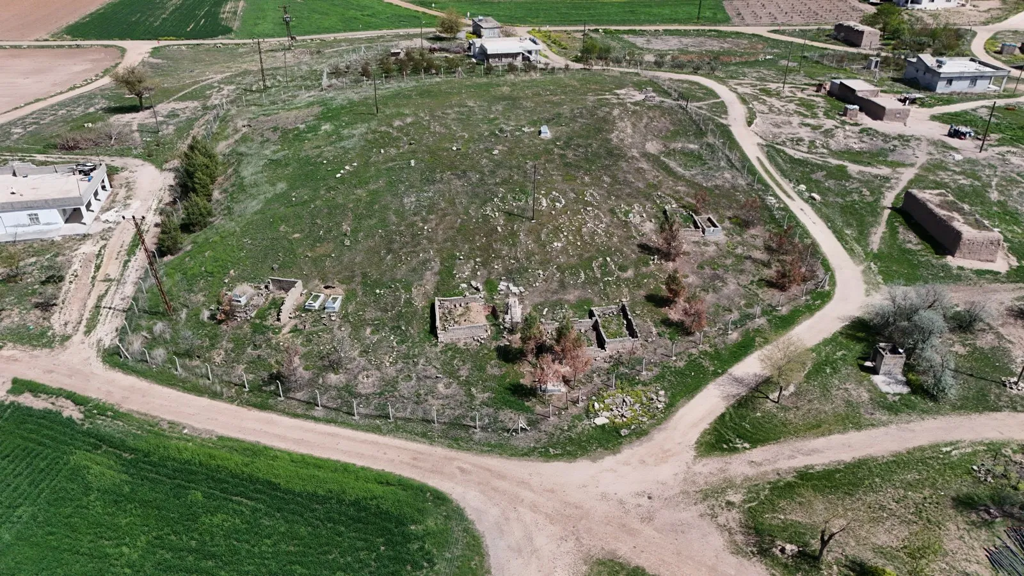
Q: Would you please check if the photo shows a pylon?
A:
Yes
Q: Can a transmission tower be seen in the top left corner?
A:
Yes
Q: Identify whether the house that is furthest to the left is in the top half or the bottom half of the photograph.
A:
top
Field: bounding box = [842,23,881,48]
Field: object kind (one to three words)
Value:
building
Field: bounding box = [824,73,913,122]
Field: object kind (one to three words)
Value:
house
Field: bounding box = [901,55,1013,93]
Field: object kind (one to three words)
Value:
house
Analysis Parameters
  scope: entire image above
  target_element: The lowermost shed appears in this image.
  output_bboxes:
[862,339,921,393]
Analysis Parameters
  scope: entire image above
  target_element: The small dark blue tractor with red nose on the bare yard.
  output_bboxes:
[947,124,974,141]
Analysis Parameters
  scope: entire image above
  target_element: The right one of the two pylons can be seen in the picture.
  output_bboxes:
[251,38,267,91]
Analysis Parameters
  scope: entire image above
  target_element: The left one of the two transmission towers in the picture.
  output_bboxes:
[120,214,176,315]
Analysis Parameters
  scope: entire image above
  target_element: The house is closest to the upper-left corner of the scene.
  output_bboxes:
[0,161,126,237]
